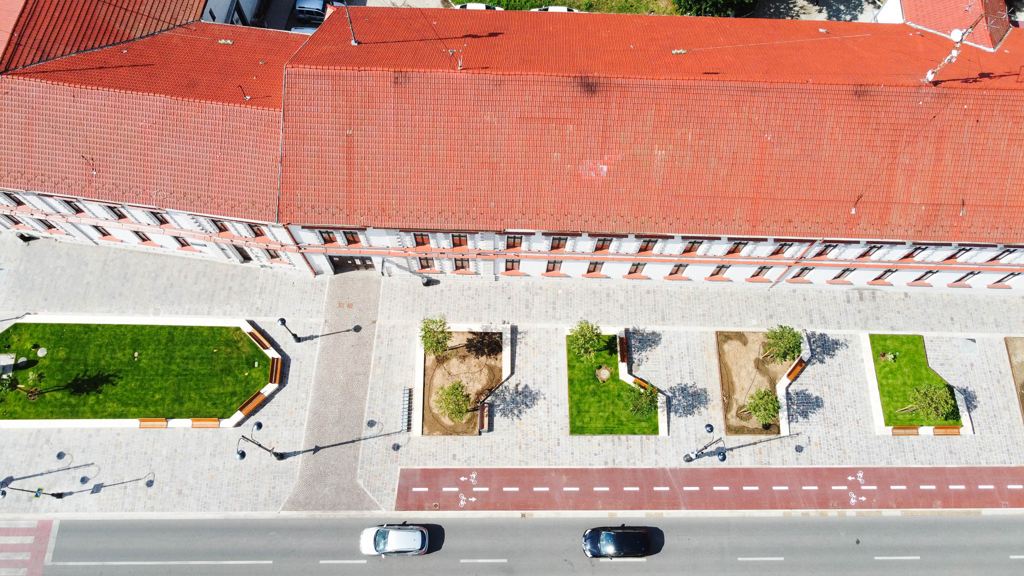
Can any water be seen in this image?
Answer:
No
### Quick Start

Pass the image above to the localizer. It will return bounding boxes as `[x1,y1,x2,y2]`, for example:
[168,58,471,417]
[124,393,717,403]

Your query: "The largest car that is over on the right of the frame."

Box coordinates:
[580,524,649,561]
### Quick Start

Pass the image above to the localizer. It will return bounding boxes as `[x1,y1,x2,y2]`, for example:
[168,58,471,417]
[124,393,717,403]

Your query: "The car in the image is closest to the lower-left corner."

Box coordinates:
[359,522,428,560]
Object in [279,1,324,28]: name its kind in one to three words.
car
